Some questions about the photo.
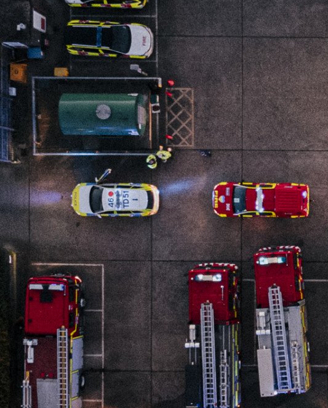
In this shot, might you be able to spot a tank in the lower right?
No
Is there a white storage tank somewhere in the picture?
No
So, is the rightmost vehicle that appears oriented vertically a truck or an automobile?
truck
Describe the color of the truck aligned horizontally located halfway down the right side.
red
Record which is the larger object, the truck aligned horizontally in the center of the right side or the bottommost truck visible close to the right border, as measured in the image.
the bottommost truck visible close to the right border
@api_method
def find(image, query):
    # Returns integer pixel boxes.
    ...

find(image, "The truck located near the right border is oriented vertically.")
[245,242,312,398]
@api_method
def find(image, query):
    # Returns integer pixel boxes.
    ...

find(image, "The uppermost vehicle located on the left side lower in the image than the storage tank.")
[73,166,161,222]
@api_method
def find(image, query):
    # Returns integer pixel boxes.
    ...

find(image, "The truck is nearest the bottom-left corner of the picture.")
[22,267,87,408]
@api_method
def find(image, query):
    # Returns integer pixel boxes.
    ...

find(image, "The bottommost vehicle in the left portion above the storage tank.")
[67,17,156,59]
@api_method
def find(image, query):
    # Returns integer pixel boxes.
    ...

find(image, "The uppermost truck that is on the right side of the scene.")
[215,179,311,223]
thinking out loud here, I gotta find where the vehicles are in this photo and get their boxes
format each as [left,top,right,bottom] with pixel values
[215,179,311,223]
[62,0,150,10]
[73,166,161,222]
[245,242,312,398]
[181,260,243,408]
[67,17,156,59]
[22,267,87,408]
